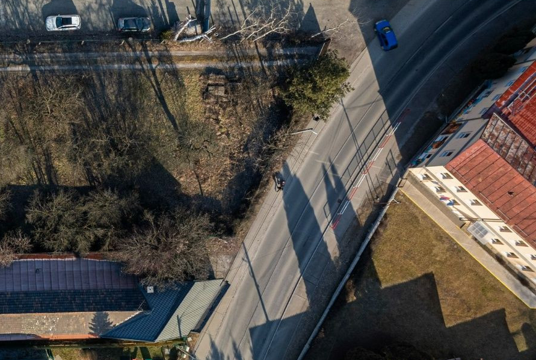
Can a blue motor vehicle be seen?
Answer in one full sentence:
Yes, there's a blue motor vehicle down there.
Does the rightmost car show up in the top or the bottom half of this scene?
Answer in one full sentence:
You can find the rightmost car in the top half.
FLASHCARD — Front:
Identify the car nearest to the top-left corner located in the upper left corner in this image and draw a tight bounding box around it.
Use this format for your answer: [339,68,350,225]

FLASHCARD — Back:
[45,14,82,33]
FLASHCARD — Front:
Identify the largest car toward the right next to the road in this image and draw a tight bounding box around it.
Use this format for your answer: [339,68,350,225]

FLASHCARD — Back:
[372,19,396,53]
